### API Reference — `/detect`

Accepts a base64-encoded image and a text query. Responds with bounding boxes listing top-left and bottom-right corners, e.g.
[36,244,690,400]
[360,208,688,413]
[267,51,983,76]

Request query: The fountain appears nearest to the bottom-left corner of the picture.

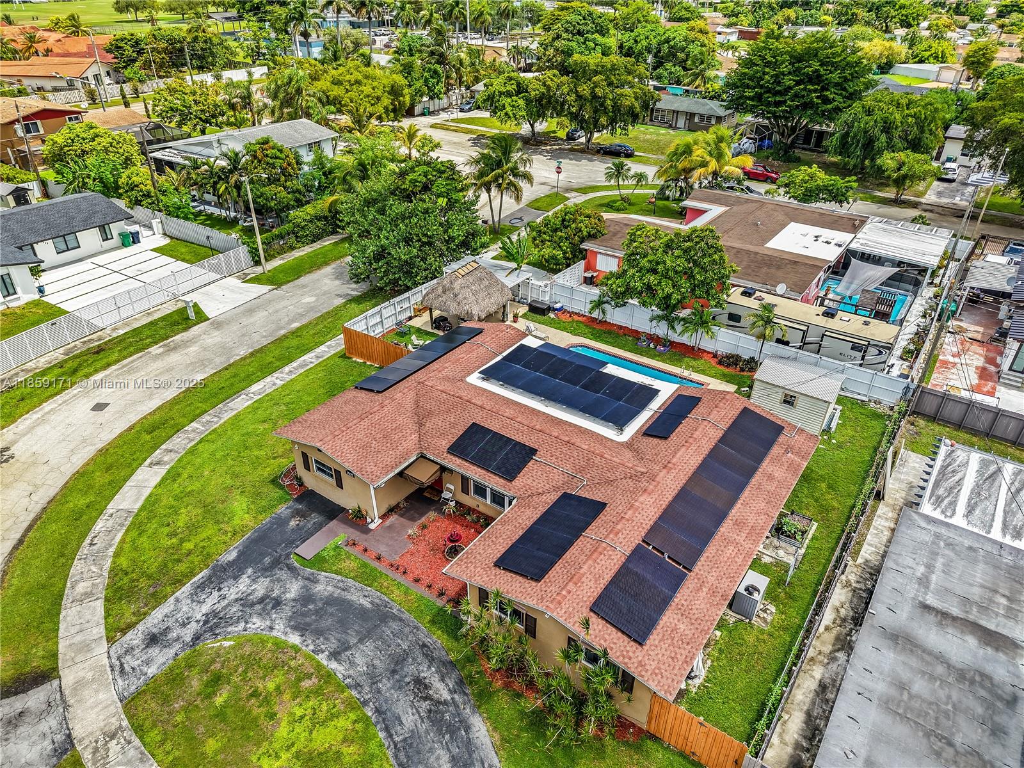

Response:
[442,526,466,544]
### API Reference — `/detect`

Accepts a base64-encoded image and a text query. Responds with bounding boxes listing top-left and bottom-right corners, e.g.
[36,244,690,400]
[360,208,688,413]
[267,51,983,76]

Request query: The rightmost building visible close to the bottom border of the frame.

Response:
[809,509,1024,768]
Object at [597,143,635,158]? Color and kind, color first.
black car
